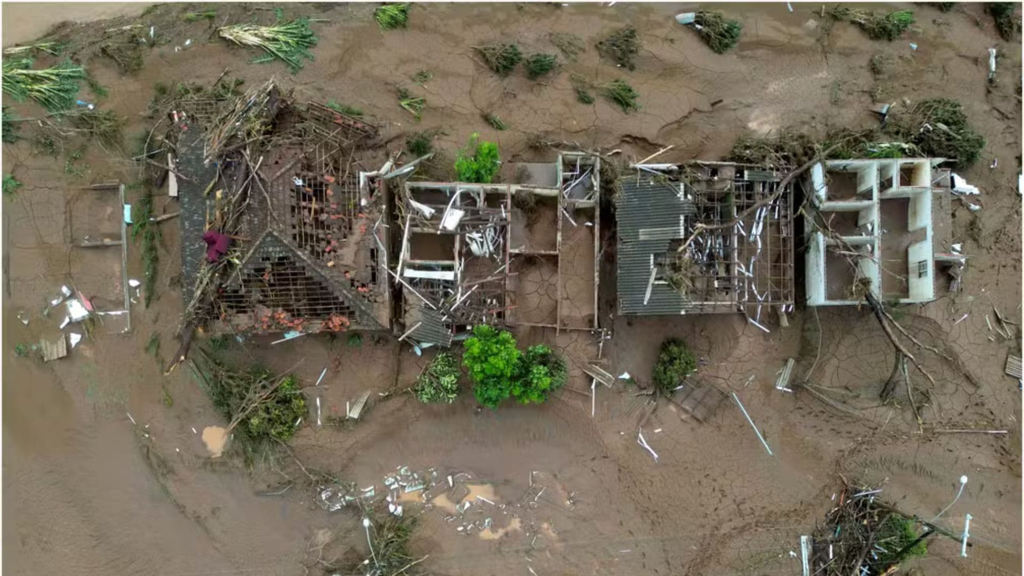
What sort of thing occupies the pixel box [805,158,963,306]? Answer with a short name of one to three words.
house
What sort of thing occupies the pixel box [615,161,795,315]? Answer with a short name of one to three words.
house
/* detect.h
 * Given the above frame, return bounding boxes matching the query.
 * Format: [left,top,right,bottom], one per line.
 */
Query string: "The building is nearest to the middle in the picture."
[403,153,600,332]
